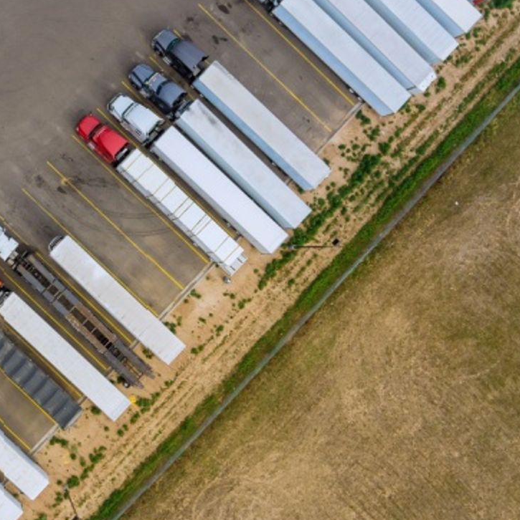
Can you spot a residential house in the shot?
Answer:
No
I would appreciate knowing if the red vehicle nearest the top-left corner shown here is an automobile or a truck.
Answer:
truck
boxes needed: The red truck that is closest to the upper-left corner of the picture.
[74,114,131,186]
